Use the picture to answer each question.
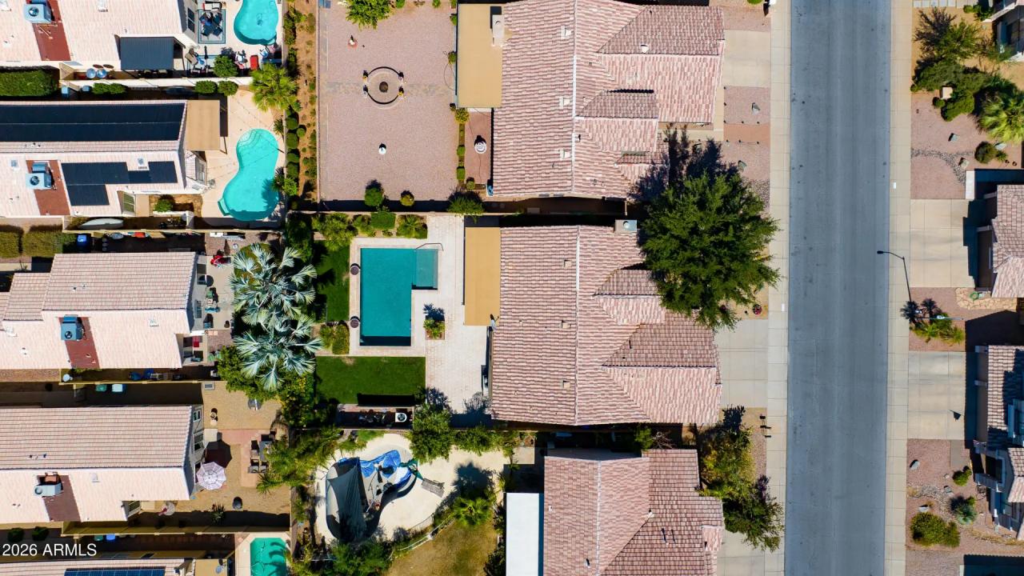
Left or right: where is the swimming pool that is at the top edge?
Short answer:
left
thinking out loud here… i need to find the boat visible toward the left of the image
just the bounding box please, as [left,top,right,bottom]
[77,217,127,230]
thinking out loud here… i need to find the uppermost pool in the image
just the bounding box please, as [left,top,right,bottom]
[229,0,280,48]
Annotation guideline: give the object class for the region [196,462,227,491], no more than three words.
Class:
umbrella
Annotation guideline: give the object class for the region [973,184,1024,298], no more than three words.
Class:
house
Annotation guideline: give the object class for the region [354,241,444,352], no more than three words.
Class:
swimming pool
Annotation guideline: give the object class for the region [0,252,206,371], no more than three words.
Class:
house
